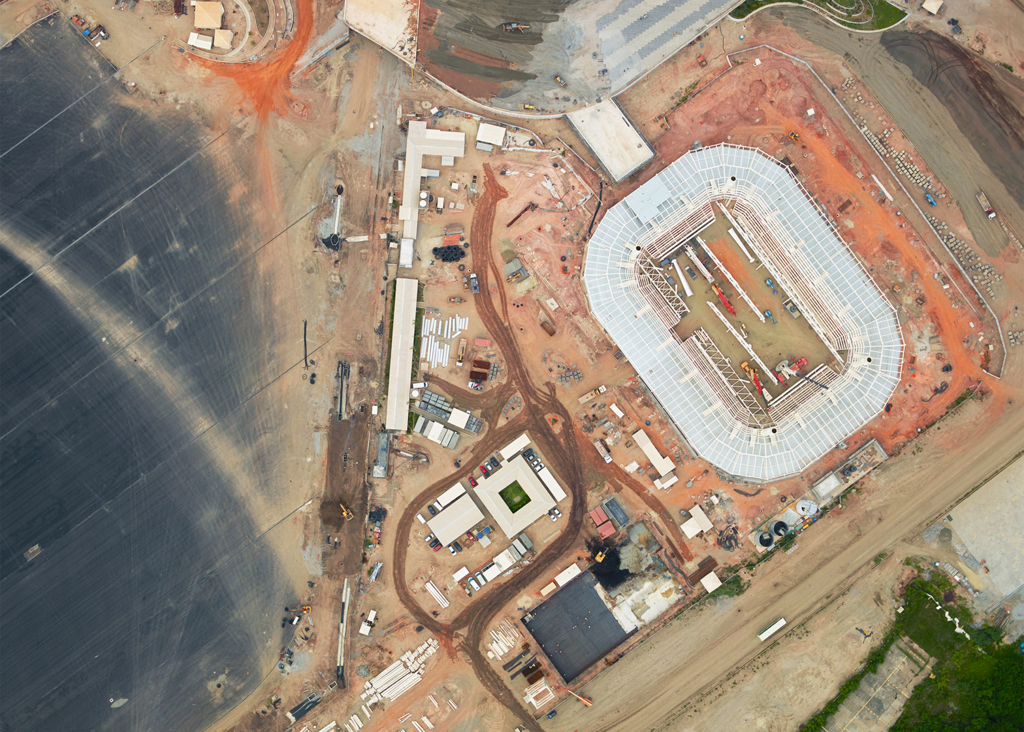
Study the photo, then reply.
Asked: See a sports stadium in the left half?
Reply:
No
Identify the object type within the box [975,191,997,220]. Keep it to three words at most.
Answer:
truck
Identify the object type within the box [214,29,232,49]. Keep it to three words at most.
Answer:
building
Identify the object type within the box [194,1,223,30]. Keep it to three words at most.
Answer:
building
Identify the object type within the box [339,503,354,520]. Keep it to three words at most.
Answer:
work vehicle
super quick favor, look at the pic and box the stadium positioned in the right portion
[577,141,907,481]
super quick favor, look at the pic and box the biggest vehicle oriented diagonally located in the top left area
[88,22,107,40]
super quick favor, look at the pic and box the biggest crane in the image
[776,354,832,391]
